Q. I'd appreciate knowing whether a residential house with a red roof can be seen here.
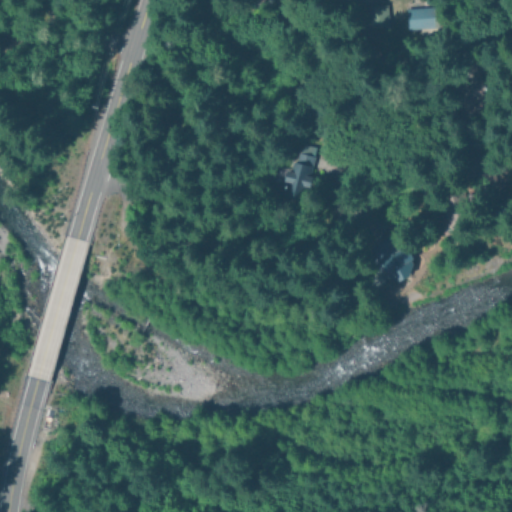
No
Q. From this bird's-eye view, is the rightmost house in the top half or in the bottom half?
top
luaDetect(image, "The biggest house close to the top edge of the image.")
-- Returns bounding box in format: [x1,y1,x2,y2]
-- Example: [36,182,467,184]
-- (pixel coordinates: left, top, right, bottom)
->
[408,6,437,34]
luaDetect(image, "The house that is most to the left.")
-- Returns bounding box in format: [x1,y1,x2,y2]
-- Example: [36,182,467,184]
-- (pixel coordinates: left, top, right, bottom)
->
[284,143,319,196]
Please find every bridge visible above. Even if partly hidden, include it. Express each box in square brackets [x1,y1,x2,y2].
[27,232,92,384]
